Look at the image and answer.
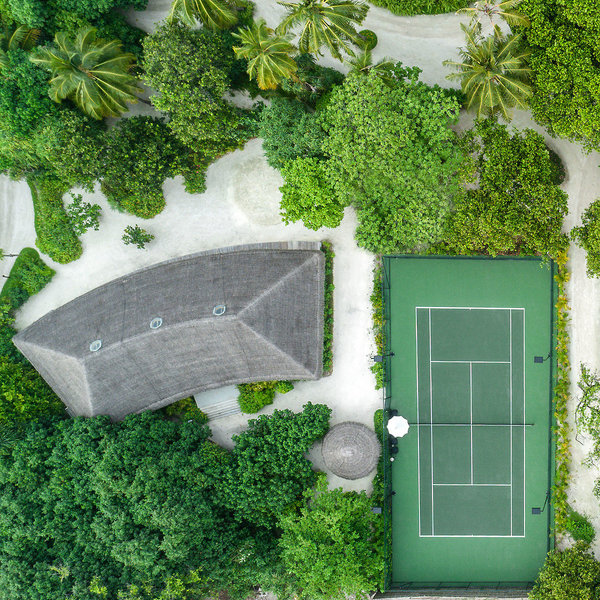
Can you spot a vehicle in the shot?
No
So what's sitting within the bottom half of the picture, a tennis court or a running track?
tennis court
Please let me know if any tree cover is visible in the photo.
Yes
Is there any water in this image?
No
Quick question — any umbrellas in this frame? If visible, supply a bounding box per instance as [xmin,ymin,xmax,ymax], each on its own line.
[387,415,410,438]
